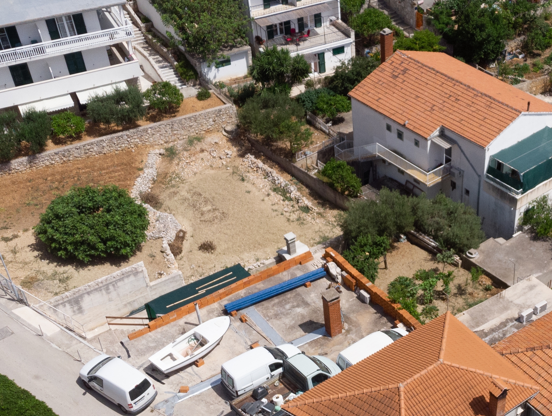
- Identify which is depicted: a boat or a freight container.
boat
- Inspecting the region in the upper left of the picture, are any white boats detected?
No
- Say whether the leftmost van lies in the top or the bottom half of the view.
bottom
